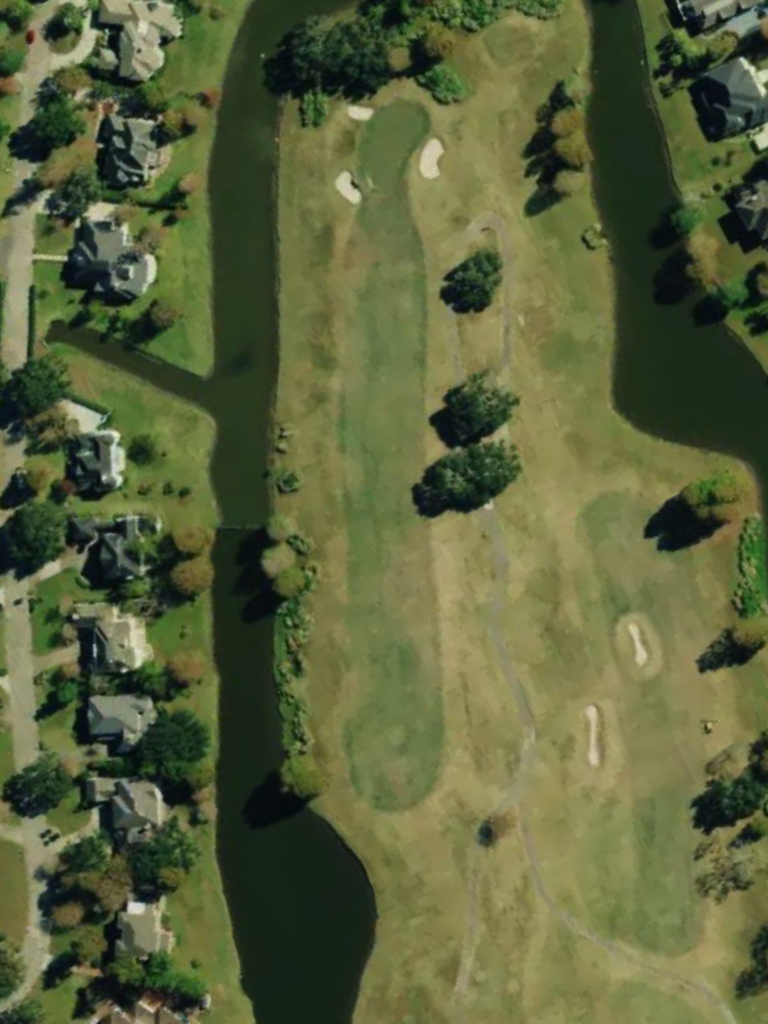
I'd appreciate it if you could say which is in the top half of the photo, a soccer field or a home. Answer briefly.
home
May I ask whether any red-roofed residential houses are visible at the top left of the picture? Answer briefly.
No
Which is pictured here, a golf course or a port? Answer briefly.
golf course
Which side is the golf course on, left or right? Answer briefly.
right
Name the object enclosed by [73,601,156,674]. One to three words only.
house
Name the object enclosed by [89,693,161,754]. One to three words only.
house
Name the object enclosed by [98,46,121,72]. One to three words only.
building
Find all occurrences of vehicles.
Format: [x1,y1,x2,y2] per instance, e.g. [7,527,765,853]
[11,597,24,606]
[46,835,59,845]
[27,30,34,42]
[40,829,53,838]
[84,749,97,757]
